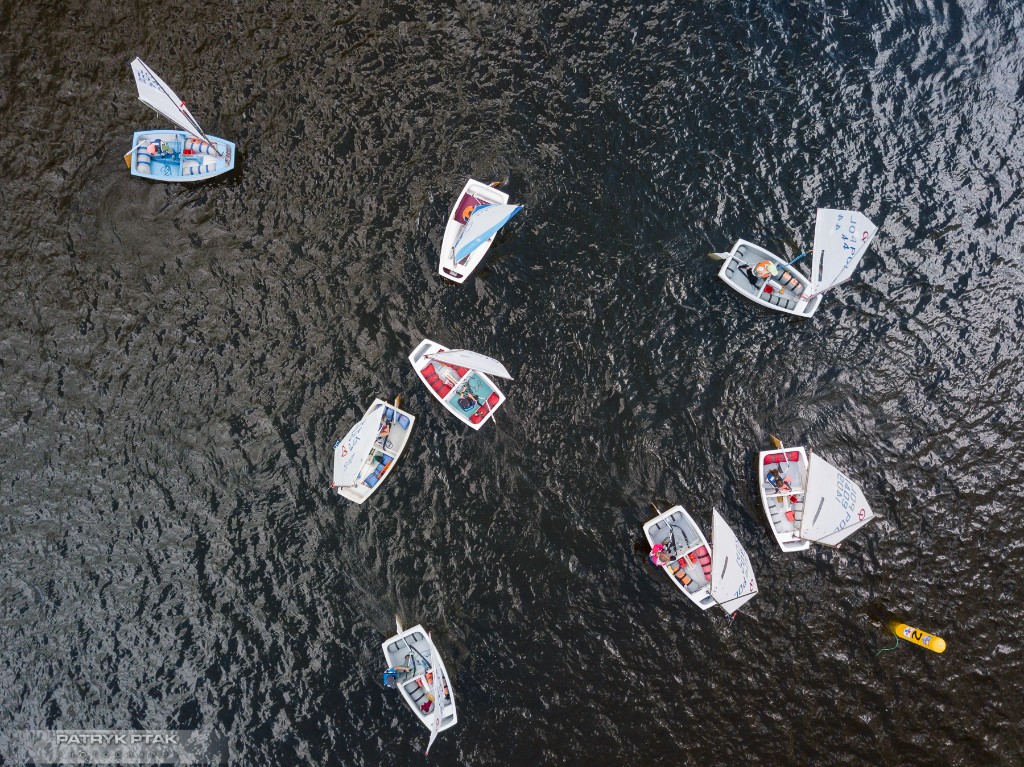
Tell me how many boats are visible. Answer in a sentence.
The number of boats here is 8.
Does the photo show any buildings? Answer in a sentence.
No, I can't see a single building in this photo.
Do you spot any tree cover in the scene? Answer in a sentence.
No, tree cover can't be seen anywhere here.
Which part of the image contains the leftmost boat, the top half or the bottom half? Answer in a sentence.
The leftmost boat is in the top half of the image.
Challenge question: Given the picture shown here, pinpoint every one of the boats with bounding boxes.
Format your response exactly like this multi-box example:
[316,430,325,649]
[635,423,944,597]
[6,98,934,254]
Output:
[408,339,518,430]
[759,436,875,551]
[383,617,456,757]
[330,395,414,503]
[438,179,527,284]
[644,502,759,622]
[711,204,879,318]
[124,56,235,181]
